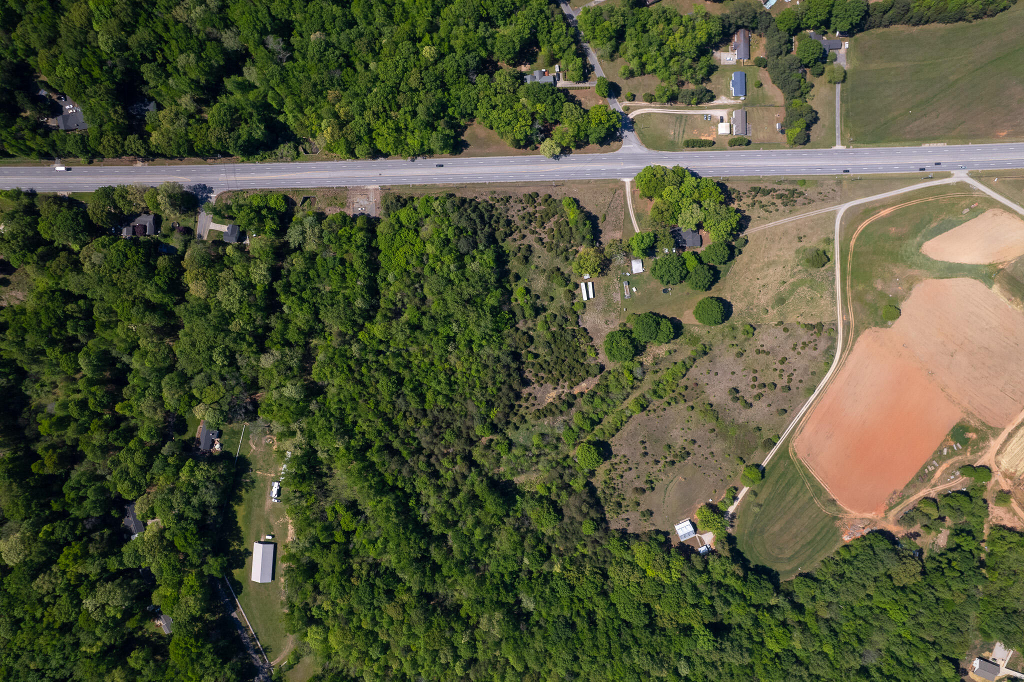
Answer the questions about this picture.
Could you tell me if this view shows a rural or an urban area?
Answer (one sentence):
From above, the setting appears rural.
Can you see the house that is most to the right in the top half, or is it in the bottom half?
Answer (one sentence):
The bottom half of the photo is where the house that is most to the right is.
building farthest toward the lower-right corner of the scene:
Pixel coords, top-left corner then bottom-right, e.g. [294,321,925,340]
[970,658,997,681]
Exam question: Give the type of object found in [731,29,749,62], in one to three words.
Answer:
house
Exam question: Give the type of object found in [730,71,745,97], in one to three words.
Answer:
house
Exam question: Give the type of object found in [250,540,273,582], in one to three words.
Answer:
barn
